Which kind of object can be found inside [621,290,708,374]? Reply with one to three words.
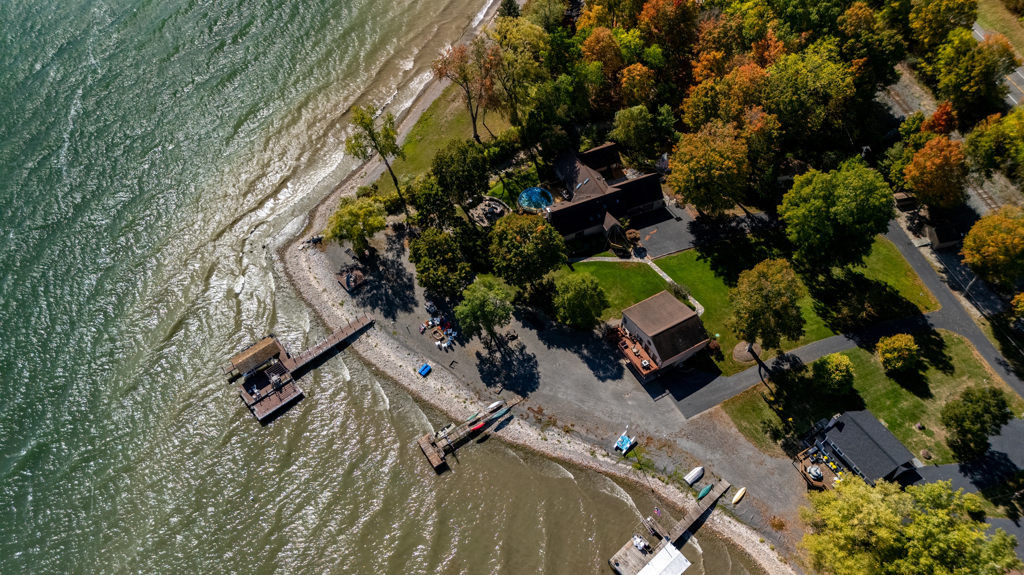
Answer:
building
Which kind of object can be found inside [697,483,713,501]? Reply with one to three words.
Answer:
boat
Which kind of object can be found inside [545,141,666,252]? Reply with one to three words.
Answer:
house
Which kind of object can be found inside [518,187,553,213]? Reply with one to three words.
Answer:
swimming pool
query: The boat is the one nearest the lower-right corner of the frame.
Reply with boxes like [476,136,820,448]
[731,486,747,505]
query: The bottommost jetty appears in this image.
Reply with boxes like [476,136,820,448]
[608,480,730,575]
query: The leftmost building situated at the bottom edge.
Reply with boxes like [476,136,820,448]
[638,542,691,575]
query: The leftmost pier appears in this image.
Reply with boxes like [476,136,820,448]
[220,309,376,423]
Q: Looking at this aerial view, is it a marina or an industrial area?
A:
marina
